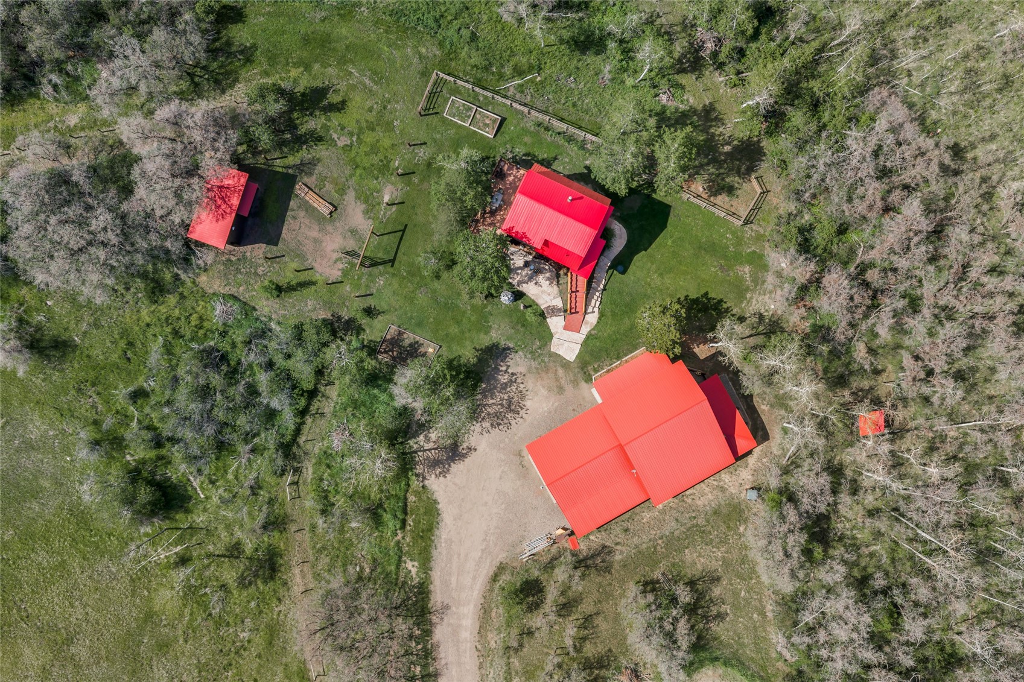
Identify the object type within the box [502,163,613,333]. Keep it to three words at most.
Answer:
house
